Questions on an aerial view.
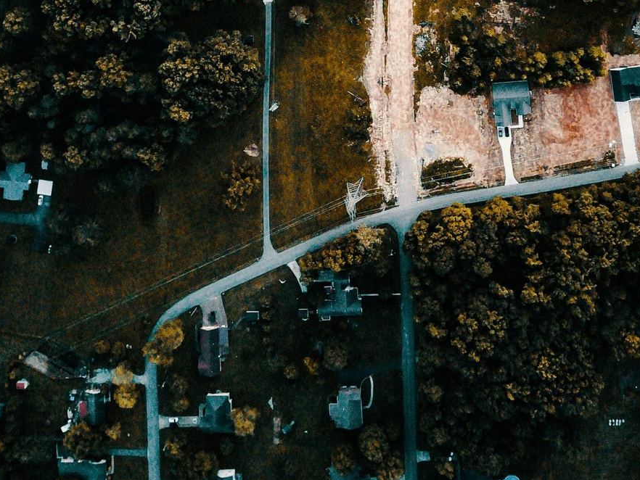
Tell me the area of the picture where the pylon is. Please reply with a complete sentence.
The pylon appears toward the center of the photo.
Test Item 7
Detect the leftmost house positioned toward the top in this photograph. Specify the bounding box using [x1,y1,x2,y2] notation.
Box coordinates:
[0,161,33,202]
